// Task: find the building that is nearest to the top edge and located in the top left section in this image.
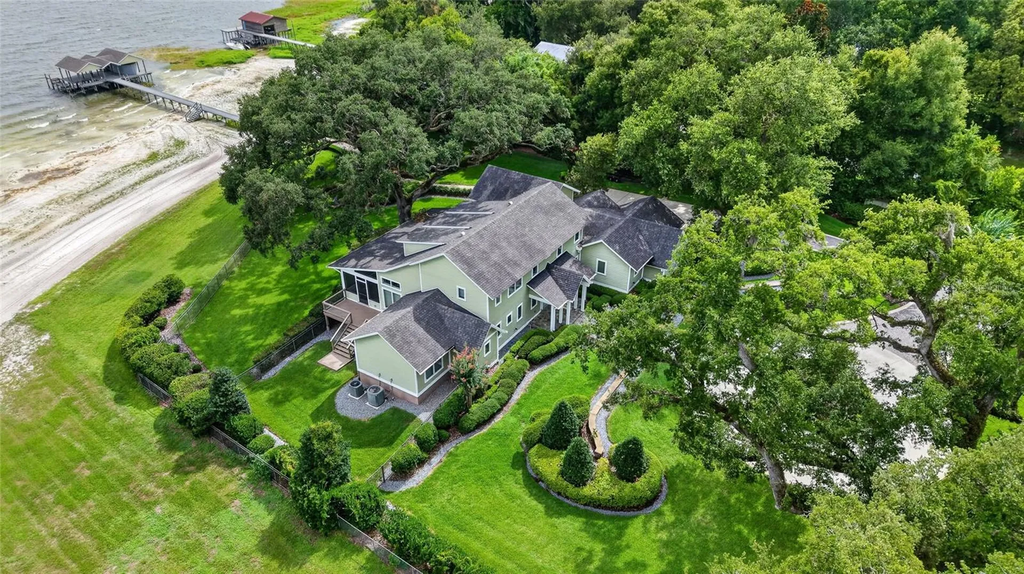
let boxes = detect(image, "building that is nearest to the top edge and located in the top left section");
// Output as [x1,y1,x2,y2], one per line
[221,11,293,43]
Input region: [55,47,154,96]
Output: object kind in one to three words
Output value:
building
